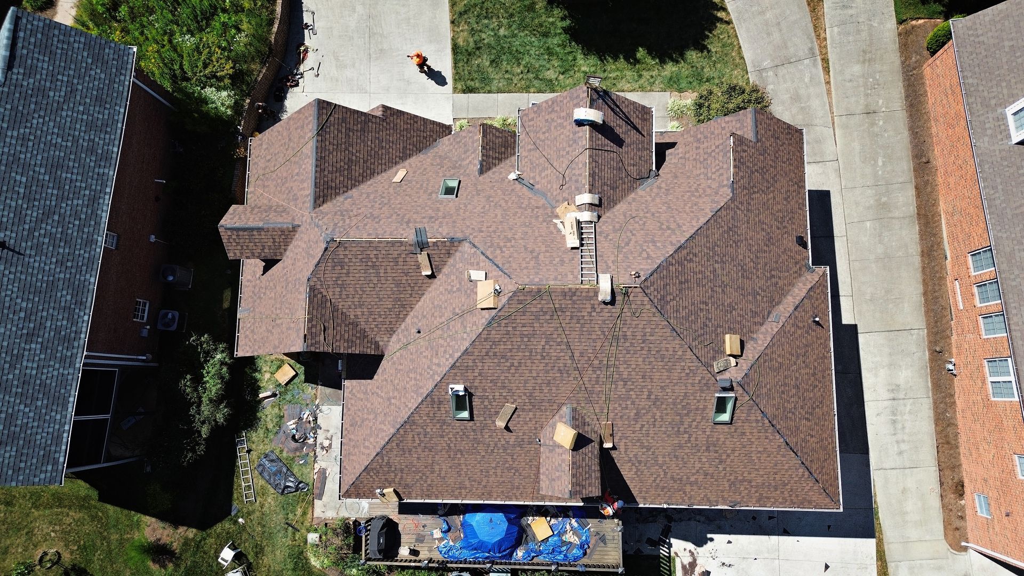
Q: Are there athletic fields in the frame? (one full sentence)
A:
No, there appears to be no athletic field in this shot.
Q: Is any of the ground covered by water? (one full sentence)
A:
No, there is no water in the image.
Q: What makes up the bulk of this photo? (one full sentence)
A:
What you mostly see from above here is buildings.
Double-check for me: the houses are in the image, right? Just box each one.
[925,0,1024,571]
[218,85,842,513]
[0,15,201,484]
